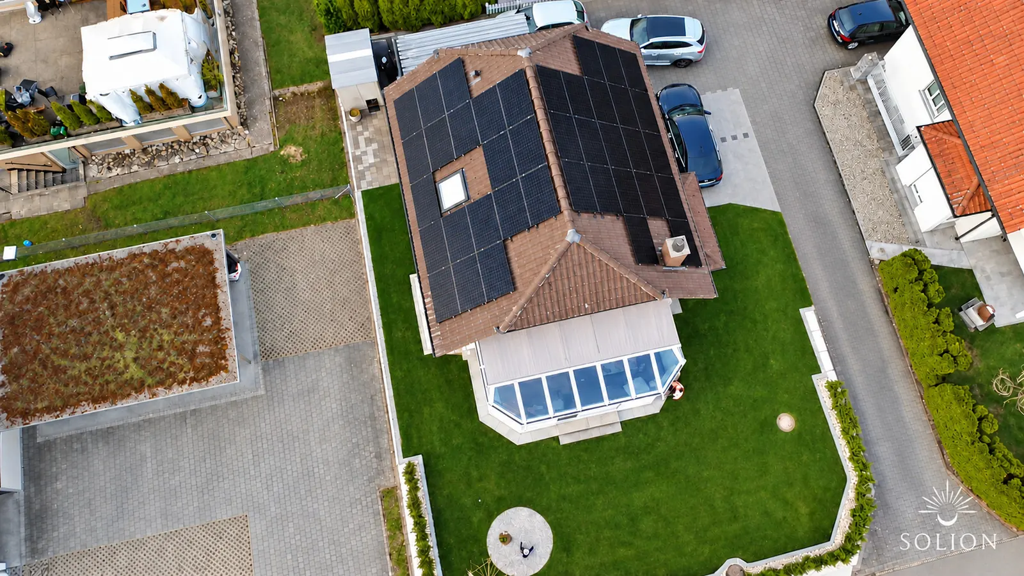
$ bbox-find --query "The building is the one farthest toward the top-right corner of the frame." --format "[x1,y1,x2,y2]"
[869,0,1024,304]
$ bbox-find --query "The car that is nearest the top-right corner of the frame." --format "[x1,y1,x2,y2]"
[824,0,908,54]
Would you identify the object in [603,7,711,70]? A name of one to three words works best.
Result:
car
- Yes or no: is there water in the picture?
No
